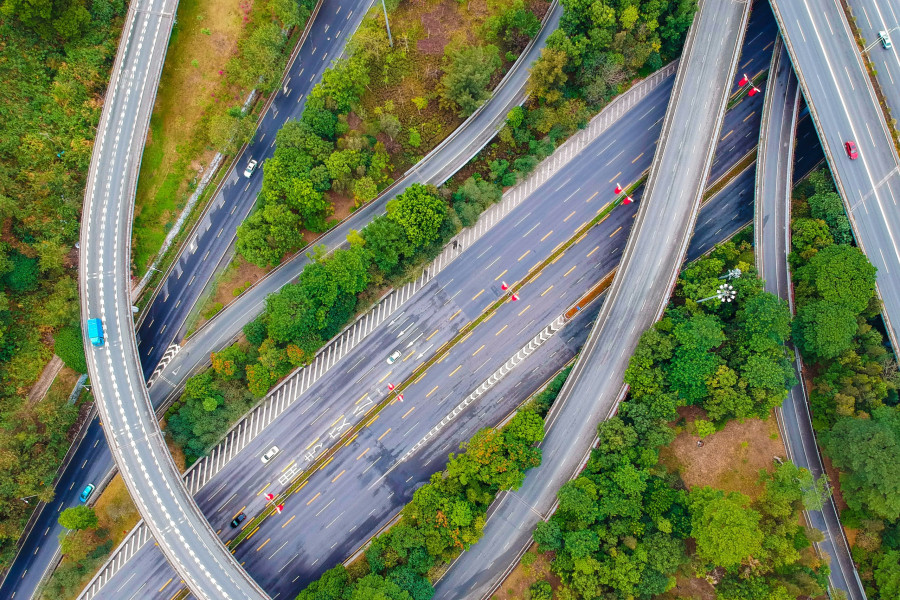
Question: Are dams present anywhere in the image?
No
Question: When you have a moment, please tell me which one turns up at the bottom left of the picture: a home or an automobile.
automobile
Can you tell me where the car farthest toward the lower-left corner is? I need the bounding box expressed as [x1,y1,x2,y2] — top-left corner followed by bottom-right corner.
[79,482,95,503]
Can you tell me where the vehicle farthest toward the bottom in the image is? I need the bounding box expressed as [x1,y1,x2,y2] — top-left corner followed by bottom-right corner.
[229,510,247,529]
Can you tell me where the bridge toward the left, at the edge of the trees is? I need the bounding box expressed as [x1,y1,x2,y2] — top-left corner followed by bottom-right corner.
[80,0,278,600]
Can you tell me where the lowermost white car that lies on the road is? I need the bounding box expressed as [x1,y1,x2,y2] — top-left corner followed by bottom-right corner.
[261,445,279,463]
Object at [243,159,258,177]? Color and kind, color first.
white car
